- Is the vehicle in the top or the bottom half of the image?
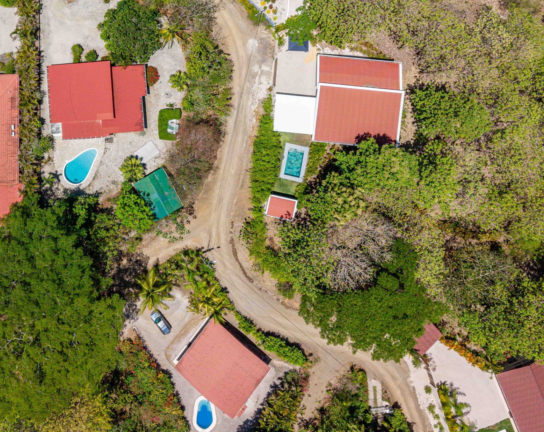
bottom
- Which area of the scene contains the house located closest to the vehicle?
bottom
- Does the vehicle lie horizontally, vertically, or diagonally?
diagonally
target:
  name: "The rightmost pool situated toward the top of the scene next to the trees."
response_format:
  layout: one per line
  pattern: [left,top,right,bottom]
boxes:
[279,143,309,182]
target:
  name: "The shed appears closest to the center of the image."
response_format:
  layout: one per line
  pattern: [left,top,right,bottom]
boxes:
[265,194,298,221]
